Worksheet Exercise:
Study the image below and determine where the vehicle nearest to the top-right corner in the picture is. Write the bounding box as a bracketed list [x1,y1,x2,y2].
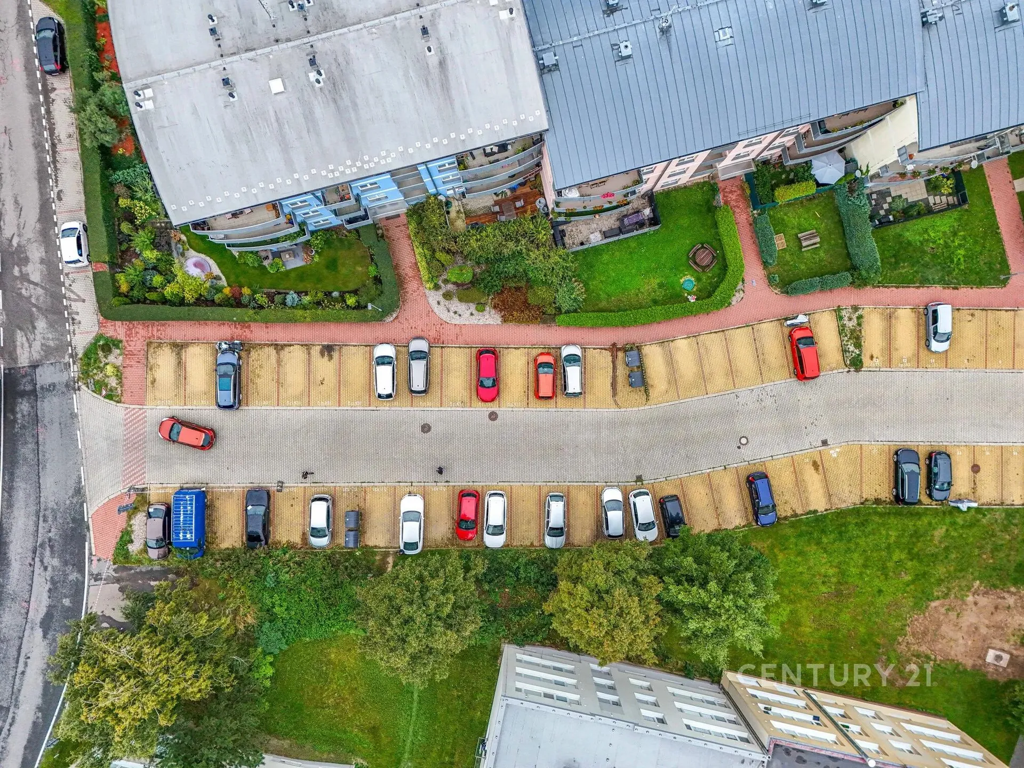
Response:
[921,304,953,353]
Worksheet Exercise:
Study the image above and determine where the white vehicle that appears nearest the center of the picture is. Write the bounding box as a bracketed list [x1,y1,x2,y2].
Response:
[558,345,586,398]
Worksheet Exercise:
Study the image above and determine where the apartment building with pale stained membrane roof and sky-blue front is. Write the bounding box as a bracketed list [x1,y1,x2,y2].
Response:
[114,0,548,250]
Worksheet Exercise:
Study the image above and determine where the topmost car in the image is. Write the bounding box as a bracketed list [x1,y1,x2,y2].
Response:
[34,20,68,78]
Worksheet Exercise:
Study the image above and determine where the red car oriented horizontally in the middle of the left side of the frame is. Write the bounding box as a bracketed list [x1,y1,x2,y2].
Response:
[160,416,218,450]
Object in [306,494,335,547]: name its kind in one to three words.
car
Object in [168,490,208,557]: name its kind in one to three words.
van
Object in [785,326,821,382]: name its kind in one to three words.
car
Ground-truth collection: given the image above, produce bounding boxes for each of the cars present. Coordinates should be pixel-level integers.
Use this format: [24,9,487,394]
[59,221,92,269]
[454,488,481,540]
[404,338,432,395]
[306,494,335,547]
[628,488,659,541]
[481,490,509,547]
[542,492,570,548]
[888,447,922,506]
[599,486,627,540]
[657,491,689,541]
[921,451,955,501]
[397,492,426,554]
[371,344,399,400]
[160,416,218,450]
[34,20,68,78]
[744,471,777,526]
[213,349,245,406]
[143,503,174,559]
[532,352,558,400]
[242,489,273,549]
[558,345,586,398]
[785,326,821,382]
[921,304,953,353]
[474,348,501,402]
